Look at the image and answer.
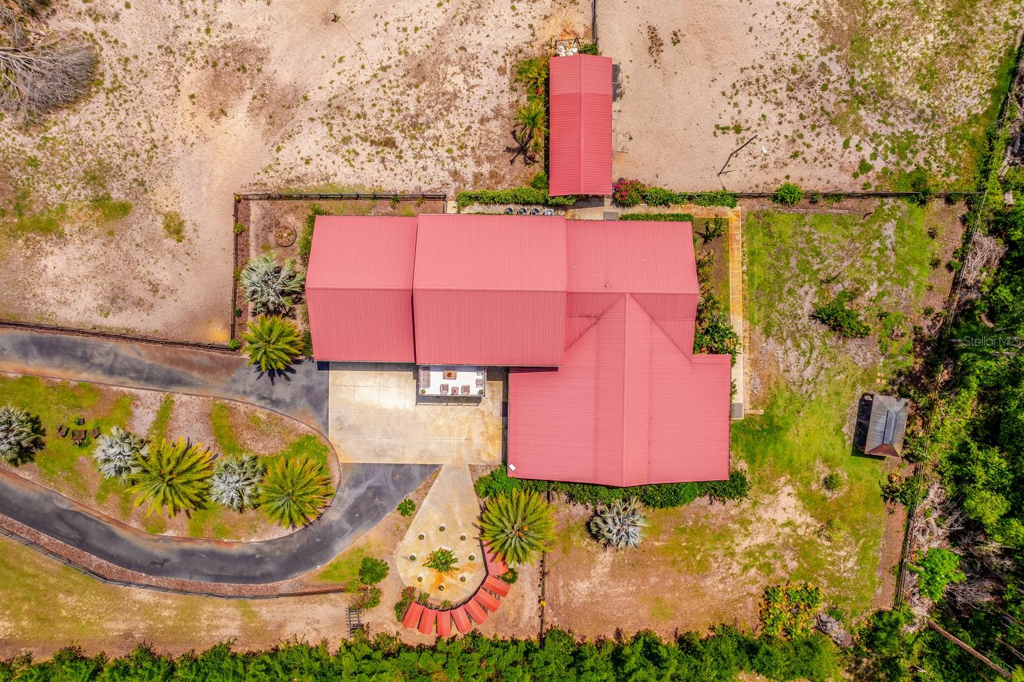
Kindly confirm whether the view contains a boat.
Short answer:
No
